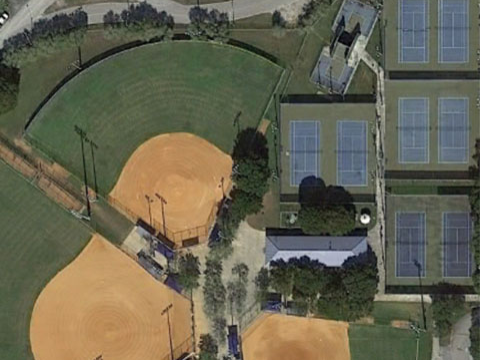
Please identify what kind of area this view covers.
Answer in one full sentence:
The area seen from above is a sports ground.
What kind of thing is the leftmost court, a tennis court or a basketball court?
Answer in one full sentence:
I'd say the leftmost court is a tennis court.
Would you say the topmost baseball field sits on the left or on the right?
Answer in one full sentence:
The topmost baseball field appears in the left half of the scene.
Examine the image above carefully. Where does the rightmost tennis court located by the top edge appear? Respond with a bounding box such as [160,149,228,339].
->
[434,0,480,79]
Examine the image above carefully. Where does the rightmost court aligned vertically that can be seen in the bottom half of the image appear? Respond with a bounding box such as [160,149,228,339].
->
[434,195,476,293]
